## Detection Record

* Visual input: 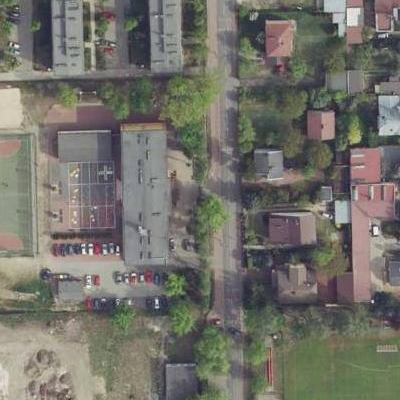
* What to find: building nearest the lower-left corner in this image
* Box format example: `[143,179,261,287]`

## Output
[58,280,83,300]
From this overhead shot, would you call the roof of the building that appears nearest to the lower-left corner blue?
No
